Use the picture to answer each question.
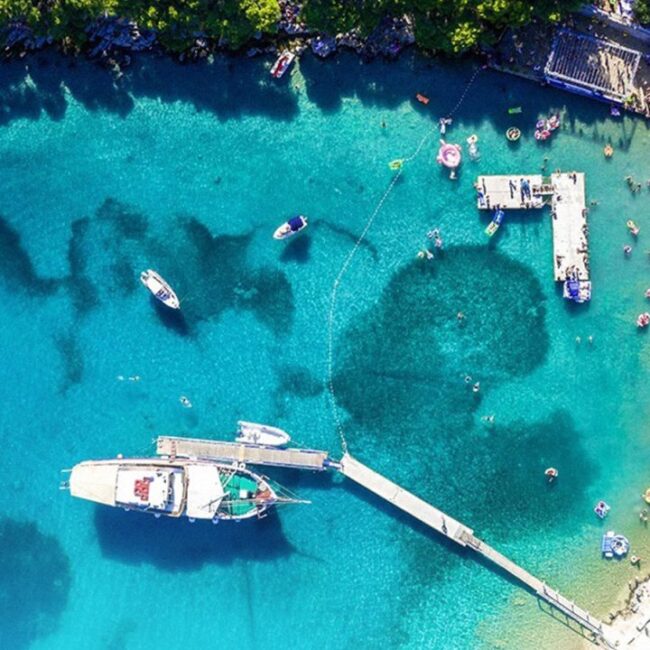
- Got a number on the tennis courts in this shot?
zero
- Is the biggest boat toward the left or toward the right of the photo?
left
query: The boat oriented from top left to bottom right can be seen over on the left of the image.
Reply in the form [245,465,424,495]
[135,265,180,307]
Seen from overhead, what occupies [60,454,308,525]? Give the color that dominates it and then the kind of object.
white boat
